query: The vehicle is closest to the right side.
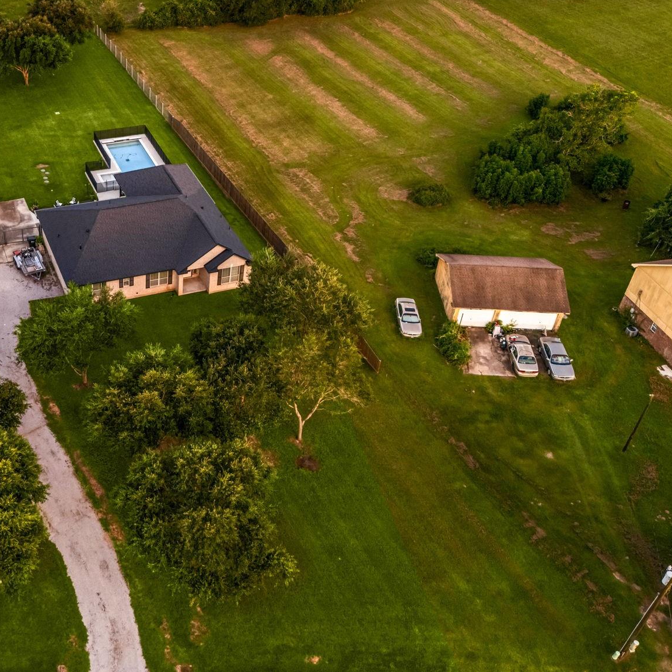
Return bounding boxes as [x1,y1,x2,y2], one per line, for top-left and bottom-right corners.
[540,334,576,379]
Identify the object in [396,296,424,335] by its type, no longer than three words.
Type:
car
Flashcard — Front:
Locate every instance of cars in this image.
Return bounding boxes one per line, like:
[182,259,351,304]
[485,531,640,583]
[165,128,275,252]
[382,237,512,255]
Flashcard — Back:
[506,332,539,377]
[540,334,576,379]
[396,296,424,335]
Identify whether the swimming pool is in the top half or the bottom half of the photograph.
top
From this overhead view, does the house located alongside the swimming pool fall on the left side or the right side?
left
